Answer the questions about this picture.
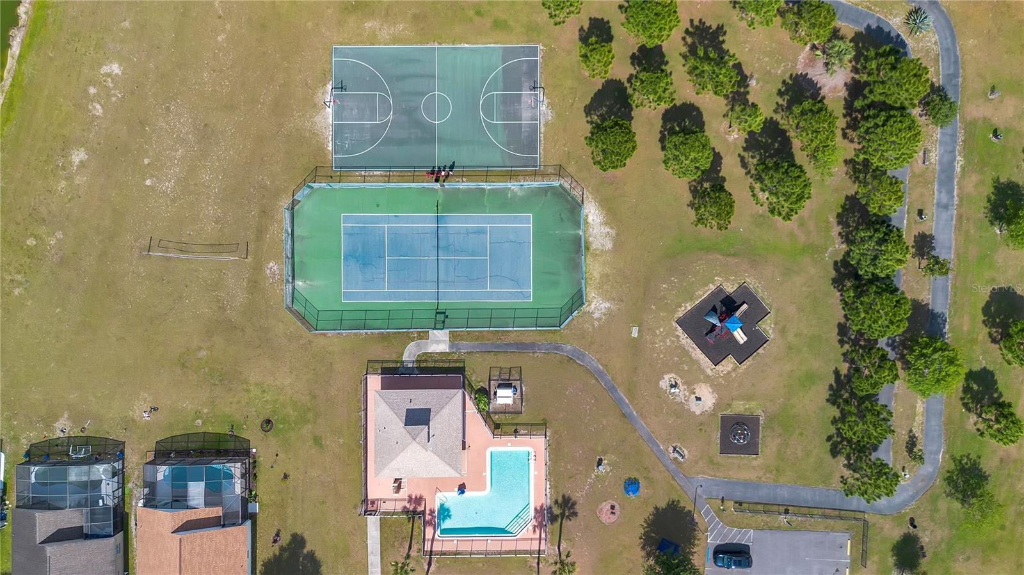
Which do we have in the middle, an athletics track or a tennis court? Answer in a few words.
tennis court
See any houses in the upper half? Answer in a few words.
No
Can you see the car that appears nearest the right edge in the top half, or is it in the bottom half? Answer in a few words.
bottom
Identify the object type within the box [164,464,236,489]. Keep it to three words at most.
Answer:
swimming pool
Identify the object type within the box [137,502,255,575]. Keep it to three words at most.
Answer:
house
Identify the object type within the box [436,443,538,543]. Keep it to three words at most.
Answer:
swimming pool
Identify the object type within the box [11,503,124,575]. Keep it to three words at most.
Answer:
house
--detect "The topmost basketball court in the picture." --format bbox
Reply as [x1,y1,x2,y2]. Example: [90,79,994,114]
[332,45,540,170]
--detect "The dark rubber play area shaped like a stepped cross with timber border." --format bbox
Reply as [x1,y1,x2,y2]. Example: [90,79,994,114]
[676,282,771,366]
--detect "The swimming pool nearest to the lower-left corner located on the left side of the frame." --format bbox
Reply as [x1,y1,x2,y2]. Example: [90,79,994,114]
[36,464,111,491]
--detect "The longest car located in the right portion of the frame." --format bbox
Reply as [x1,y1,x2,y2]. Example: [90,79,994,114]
[711,548,750,569]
